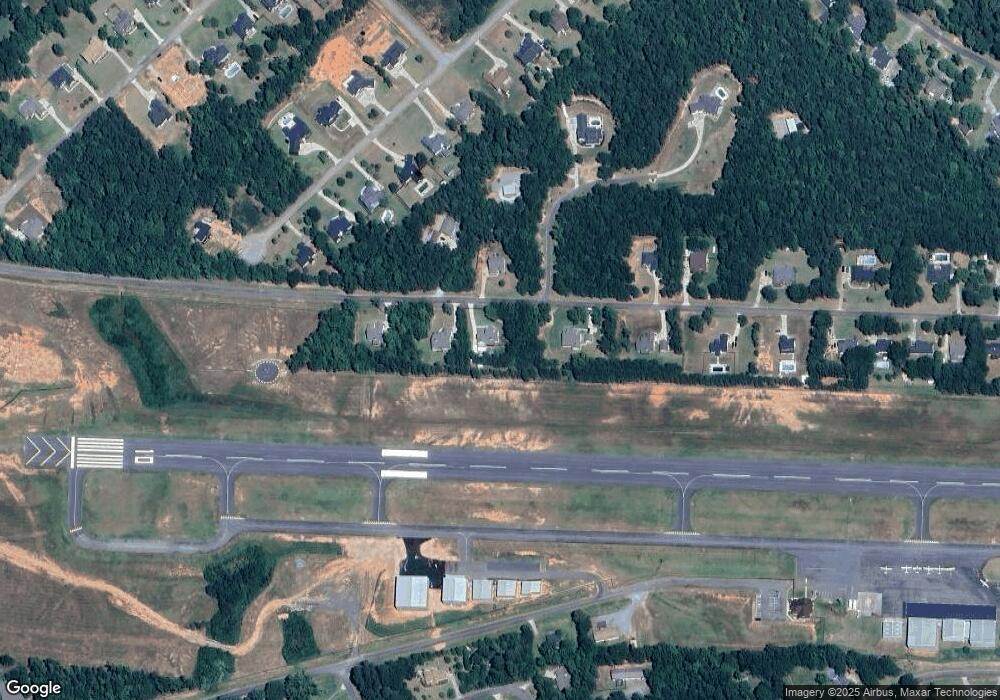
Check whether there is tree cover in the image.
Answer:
Yes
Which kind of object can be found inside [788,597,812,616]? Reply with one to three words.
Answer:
building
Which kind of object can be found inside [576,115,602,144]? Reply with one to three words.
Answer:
house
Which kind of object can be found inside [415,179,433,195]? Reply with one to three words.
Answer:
swimming pool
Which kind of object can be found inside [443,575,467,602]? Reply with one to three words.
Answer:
hangar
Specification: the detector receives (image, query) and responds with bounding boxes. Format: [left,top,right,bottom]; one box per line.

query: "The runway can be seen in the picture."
[23,435,1000,498]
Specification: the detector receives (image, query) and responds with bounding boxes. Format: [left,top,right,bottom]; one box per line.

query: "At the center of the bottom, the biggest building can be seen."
[396,575,429,609]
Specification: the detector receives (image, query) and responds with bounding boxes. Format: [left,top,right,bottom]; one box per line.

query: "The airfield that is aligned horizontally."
[23,435,1000,622]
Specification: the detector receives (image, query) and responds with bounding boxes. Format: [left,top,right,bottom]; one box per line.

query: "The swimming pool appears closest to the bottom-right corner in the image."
[779,359,797,373]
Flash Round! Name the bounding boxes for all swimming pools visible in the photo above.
[716,87,728,99]
[779,359,797,373]
[710,364,726,373]
[225,62,241,77]
[382,210,393,222]
[278,113,293,129]
[932,252,950,263]
[588,117,603,128]
[857,255,876,266]
[415,179,433,195]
